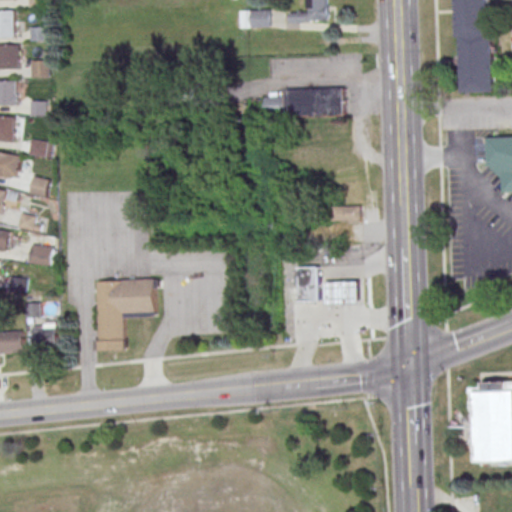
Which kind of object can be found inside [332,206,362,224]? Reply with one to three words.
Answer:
building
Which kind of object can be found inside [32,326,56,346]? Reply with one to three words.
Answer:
house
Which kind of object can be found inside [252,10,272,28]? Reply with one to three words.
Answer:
building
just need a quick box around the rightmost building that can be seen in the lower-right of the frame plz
[472,382,512,464]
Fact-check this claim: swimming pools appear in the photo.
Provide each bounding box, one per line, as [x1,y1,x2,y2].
[44,302,58,316]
